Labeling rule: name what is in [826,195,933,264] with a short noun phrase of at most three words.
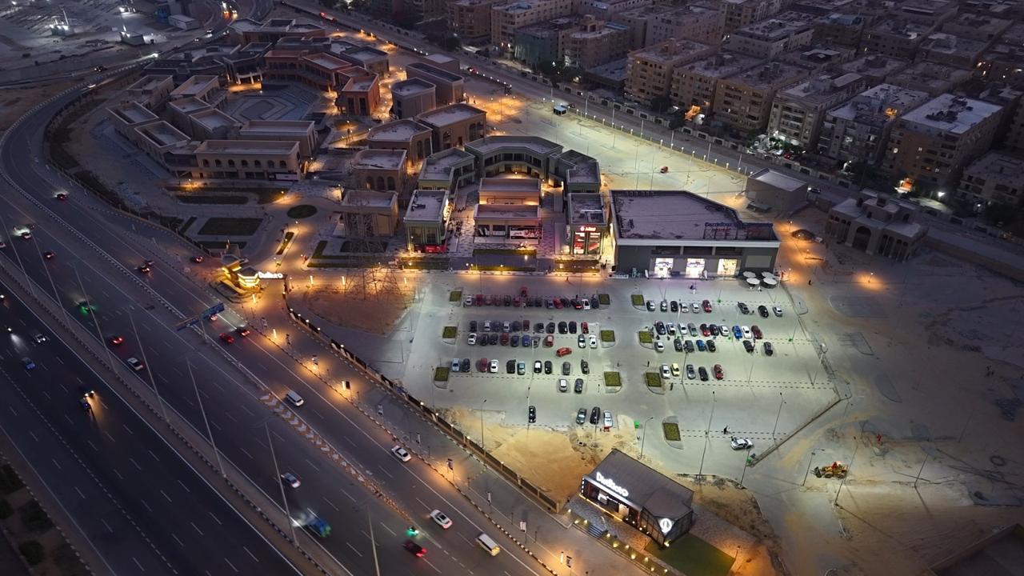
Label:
building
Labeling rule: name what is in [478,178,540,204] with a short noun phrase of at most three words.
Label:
building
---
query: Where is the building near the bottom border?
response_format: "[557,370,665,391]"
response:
[579,448,695,550]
